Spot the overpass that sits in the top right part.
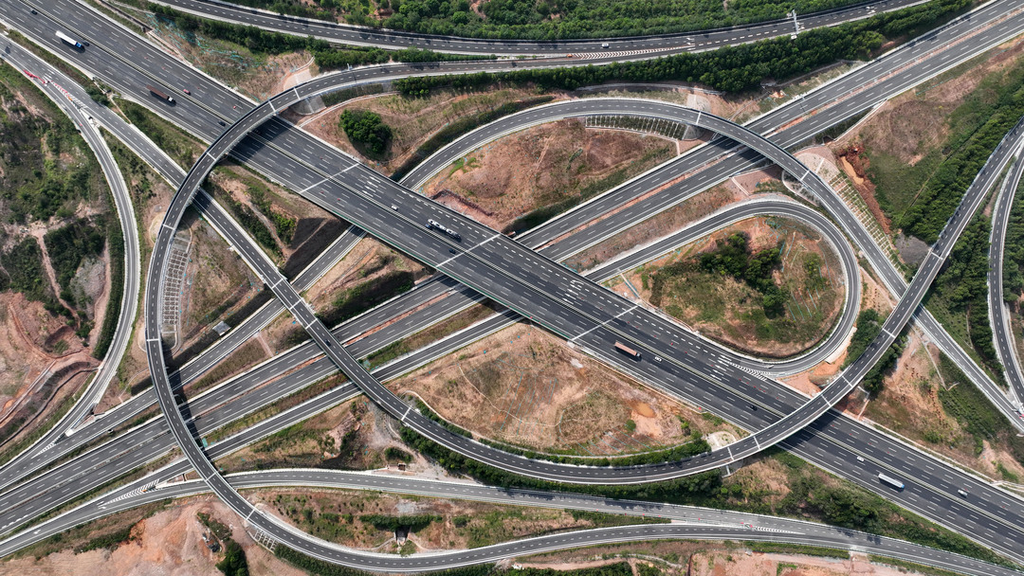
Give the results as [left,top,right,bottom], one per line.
[695,112,810,181]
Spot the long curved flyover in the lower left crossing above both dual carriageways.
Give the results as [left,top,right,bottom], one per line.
[147,338,254,519]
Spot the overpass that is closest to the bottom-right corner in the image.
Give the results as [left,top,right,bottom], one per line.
[727,250,945,461]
